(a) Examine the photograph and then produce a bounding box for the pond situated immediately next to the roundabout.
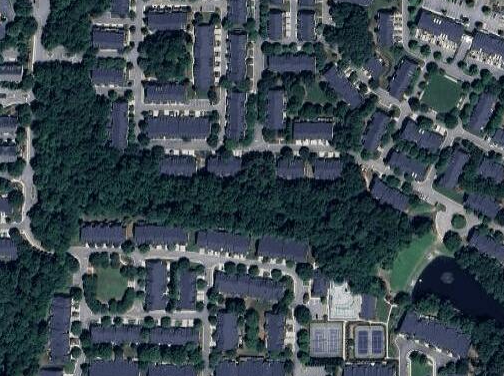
[411,254,504,331]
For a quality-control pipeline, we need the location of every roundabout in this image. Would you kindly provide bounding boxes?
[437,199,475,242]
